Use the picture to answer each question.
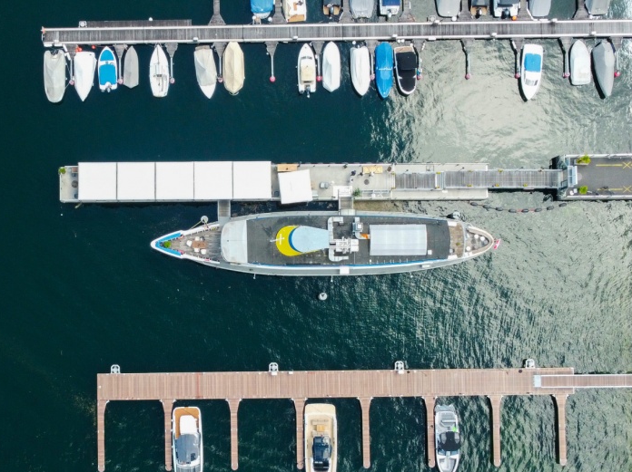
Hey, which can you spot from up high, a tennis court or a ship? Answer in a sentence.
This aerial view contains a ship.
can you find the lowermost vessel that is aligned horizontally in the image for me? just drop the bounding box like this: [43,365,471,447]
[151,212,497,282]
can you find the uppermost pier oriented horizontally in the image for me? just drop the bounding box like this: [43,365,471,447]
[43,0,632,81]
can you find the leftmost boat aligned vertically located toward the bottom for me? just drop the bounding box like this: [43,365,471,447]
[170,401,204,472]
